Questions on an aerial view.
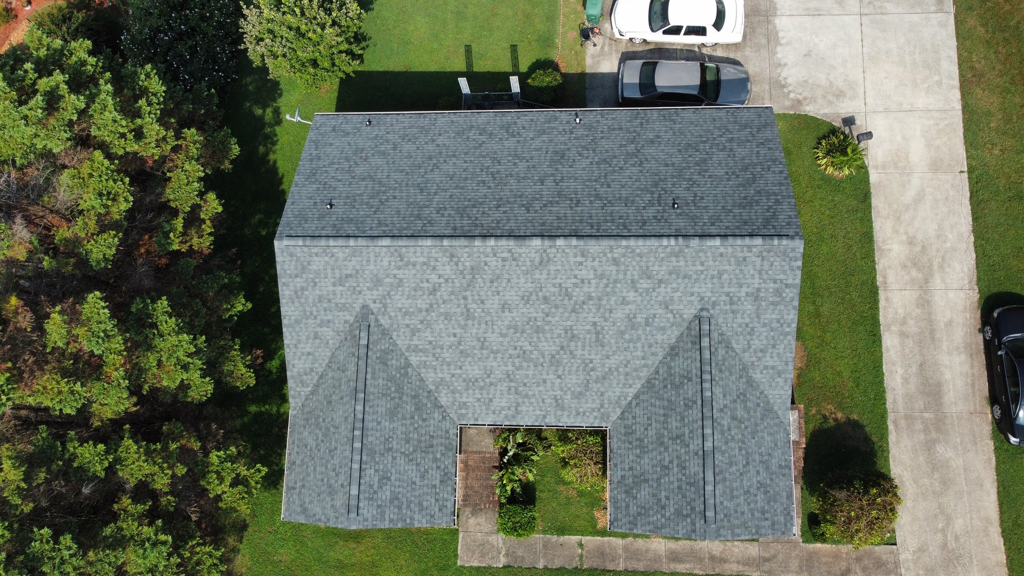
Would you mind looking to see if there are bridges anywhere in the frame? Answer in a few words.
No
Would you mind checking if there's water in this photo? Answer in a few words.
No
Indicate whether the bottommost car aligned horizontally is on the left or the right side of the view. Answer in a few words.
right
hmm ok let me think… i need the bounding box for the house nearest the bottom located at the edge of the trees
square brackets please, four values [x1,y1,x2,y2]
[275,104,802,541]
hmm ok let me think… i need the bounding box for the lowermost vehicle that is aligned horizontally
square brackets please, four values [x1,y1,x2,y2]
[618,54,751,107]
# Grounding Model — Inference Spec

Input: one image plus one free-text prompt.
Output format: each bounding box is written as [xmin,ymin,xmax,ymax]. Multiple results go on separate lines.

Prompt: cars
[613,0,749,47]
[618,54,751,107]
[984,305,1024,439]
